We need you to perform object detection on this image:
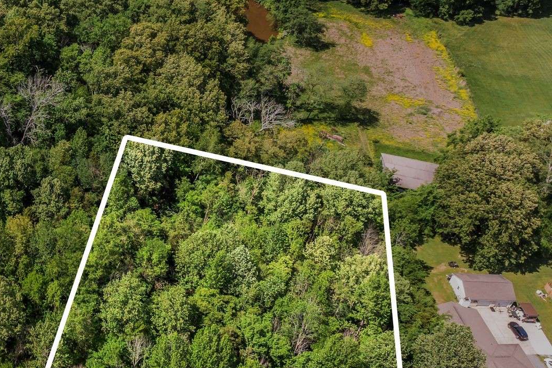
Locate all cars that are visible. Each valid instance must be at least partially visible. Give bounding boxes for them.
[542,357,552,368]
[506,322,530,342]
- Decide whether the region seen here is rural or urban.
rural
